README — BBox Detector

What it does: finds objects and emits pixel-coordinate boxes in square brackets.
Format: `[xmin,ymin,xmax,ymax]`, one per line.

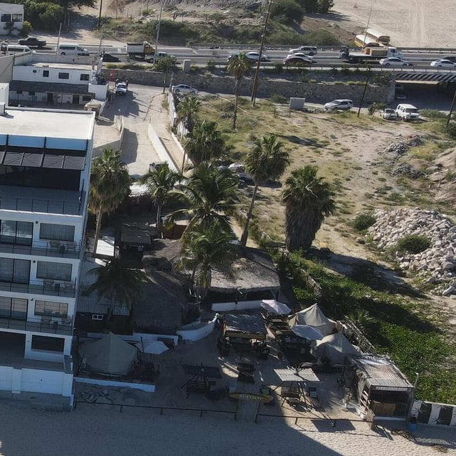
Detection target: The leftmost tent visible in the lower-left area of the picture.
[72,321,149,382]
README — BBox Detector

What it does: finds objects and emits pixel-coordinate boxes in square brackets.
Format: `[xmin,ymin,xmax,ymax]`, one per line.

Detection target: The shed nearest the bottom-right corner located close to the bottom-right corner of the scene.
[347,359,414,415]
